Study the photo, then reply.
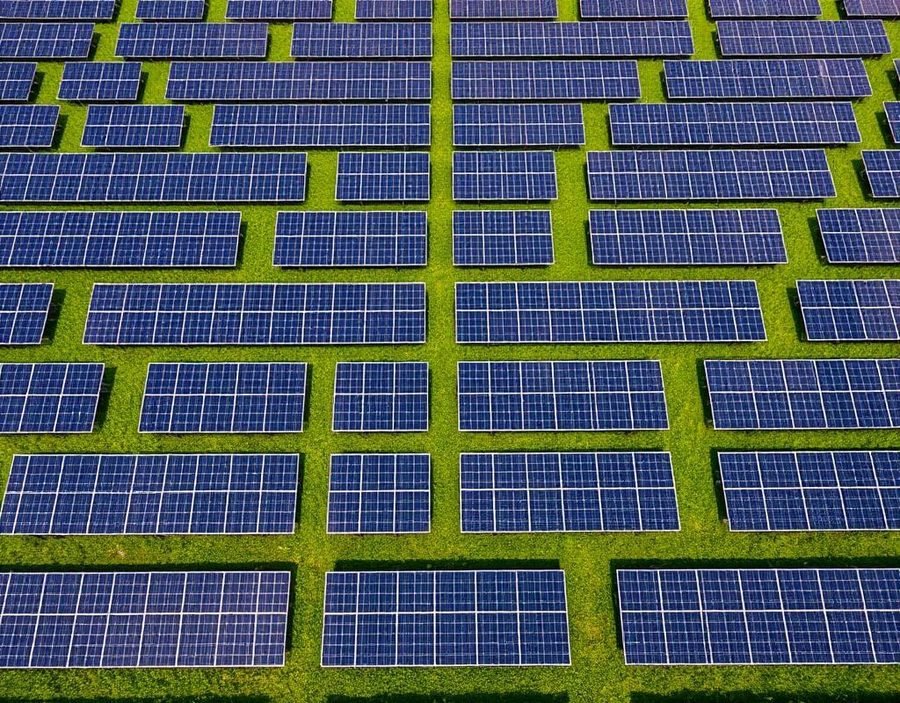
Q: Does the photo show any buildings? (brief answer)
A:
No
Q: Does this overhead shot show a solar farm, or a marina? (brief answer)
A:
solar farm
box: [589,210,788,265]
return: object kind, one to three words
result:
solar array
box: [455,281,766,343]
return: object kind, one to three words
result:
solar array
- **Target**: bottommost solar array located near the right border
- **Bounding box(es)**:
[617,567,900,664]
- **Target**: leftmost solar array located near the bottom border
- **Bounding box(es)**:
[0,571,290,669]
